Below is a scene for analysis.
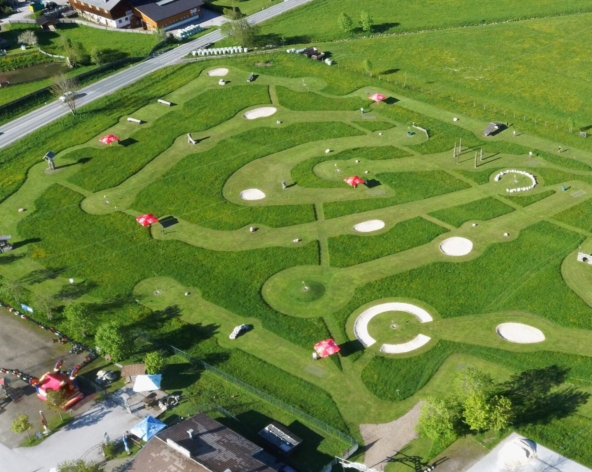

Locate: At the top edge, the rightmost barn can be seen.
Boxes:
[118,0,198,32]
